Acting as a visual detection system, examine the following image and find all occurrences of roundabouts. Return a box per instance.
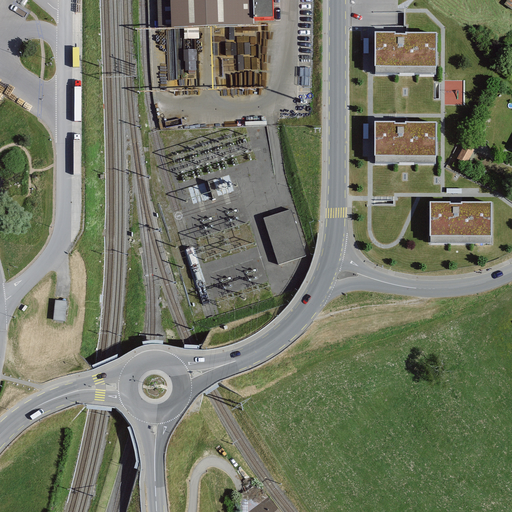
[78,348,214,434]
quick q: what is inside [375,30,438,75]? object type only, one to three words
building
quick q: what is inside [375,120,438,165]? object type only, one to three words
building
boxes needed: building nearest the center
[264,210,306,264]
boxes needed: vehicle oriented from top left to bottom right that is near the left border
[10,4,28,18]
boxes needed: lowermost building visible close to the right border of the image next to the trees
[430,201,494,246]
